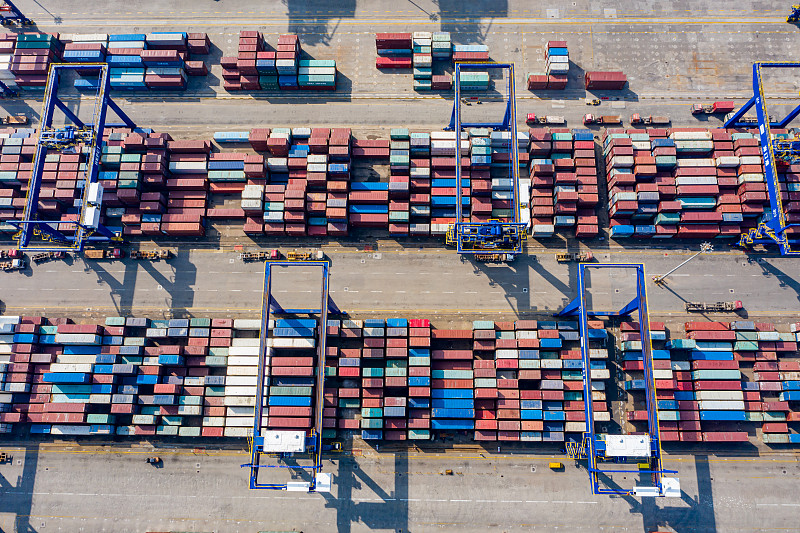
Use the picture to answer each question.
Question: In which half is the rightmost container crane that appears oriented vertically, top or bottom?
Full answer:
It is in the top half that the rightmost container crane that appears oriented vertically appears.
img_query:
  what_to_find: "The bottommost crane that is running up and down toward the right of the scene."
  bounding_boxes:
[553,259,685,499]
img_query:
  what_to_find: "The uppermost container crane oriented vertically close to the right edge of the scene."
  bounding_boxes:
[716,57,800,257]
